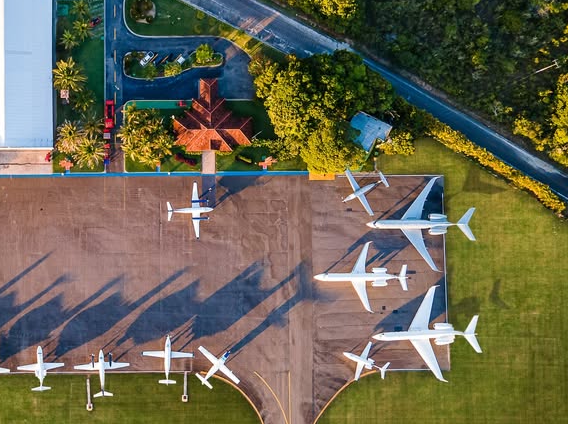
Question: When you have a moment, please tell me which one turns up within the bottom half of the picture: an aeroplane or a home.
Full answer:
You can see an aeroplane within the bottom half of the picture.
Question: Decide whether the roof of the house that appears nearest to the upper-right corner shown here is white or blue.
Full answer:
From above, the roof of the house that appears nearest to the upper-right corner appears blue.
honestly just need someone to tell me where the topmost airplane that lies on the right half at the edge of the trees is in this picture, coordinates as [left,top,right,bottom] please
[340,169,390,216]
